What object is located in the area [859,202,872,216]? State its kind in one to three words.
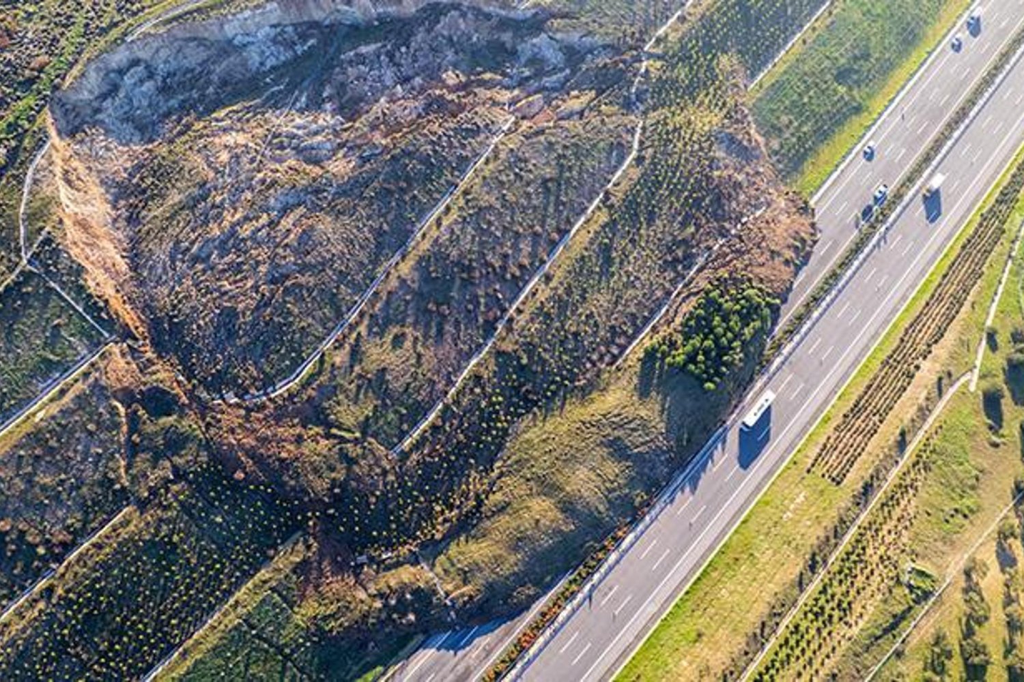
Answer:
vehicle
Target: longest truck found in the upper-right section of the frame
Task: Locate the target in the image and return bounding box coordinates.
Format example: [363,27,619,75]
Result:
[924,173,946,197]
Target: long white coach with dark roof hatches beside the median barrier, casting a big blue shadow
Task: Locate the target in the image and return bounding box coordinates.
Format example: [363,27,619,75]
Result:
[741,390,774,427]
